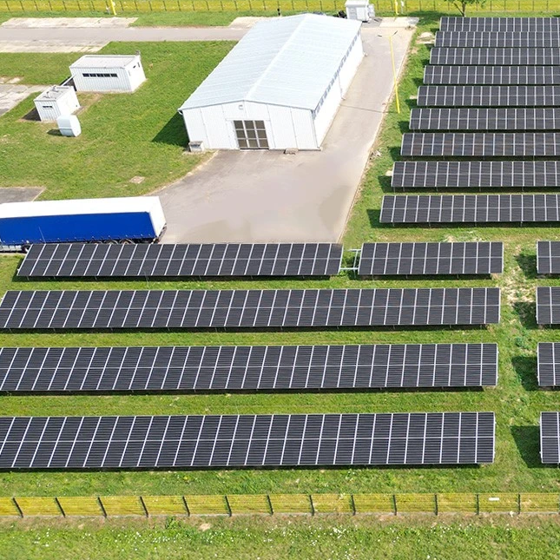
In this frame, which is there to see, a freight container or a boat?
freight container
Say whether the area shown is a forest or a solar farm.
solar farm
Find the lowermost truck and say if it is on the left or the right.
left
